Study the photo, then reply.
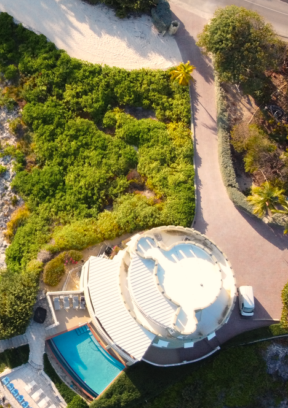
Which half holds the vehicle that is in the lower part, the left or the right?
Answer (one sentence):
The vehicle that is in the lower part appears in the right half of the scene.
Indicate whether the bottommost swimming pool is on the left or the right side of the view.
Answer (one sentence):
You can find the bottommost swimming pool on the left side of the picture.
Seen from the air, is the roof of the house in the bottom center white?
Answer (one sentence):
Yes, the roof of the house in the bottom center is white.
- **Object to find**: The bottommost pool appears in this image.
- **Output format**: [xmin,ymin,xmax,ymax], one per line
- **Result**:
[44,321,129,407]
